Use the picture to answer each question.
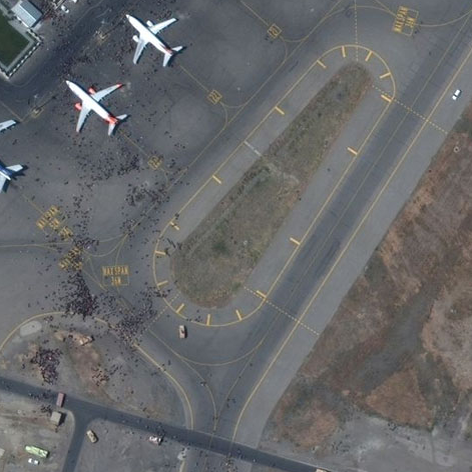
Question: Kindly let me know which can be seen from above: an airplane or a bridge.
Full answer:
Looking from above, you can make out an airplane.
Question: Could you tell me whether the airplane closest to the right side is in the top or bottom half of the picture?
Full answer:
The airplane closest to the right side is in the top half of the image.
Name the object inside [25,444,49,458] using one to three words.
vehicle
